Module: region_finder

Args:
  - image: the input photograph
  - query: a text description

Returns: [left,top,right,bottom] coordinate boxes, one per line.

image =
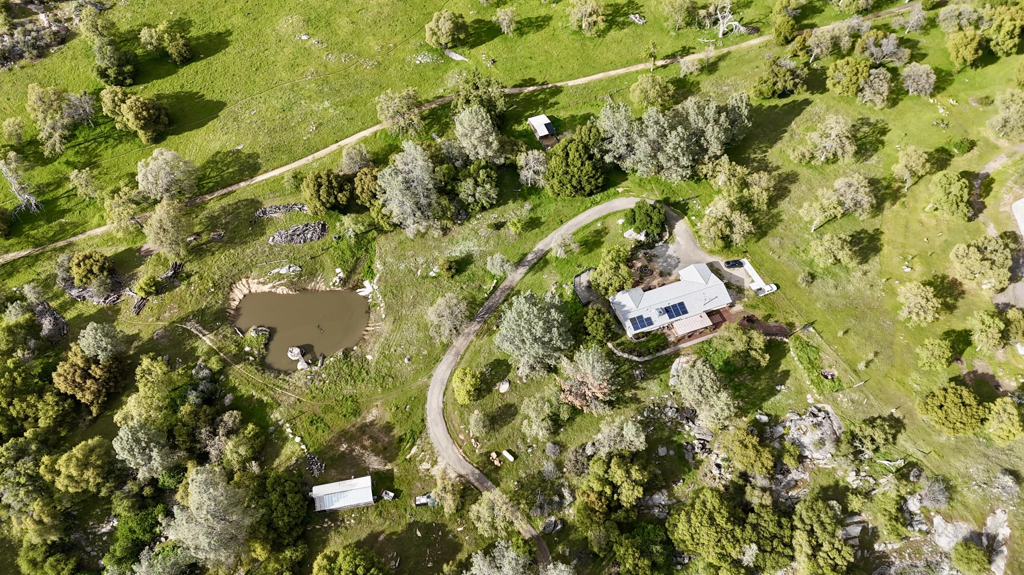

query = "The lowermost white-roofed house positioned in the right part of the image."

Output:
[611,264,733,340]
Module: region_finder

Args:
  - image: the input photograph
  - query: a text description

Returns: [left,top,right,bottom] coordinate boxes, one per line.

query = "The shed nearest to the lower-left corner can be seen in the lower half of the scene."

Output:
[313,476,375,515]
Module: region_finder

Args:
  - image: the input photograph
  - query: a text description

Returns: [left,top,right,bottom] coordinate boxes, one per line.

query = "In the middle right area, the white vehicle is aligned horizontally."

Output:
[754,285,778,298]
